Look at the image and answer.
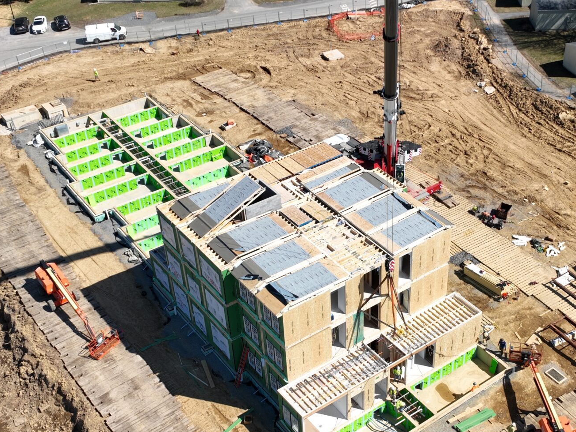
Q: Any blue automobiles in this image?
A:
No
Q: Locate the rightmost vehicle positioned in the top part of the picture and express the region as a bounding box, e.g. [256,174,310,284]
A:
[82,19,126,43]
